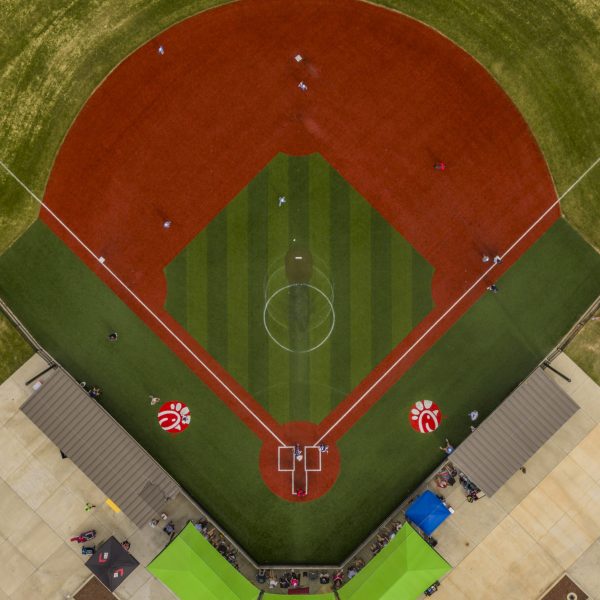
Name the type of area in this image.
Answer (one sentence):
What you see here is a sports ground.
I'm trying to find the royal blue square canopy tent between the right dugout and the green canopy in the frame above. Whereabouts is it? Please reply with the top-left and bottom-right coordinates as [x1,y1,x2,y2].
[402,483,452,535]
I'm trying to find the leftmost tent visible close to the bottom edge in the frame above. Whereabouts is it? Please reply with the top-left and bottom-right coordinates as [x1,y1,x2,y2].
[85,524,147,592]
